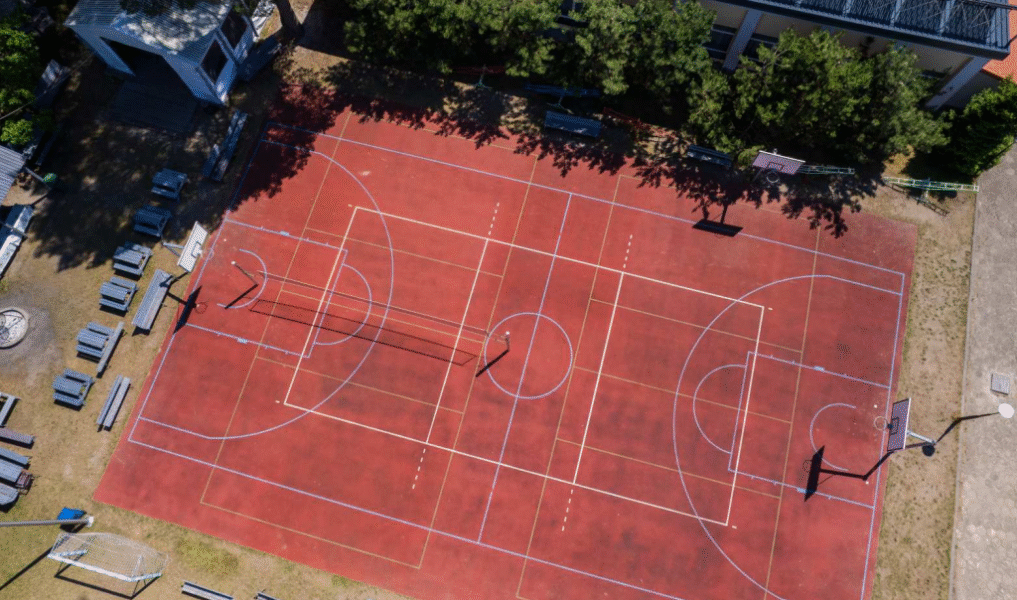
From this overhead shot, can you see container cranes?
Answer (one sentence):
No, there isn't any container crane down there.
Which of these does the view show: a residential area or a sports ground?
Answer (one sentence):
The area seen from above is a sports ground.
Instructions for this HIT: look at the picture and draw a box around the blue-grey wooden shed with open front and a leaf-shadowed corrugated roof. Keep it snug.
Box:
[62,0,267,99]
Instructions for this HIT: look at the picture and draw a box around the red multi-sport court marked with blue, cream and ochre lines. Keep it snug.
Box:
[91,76,918,600]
